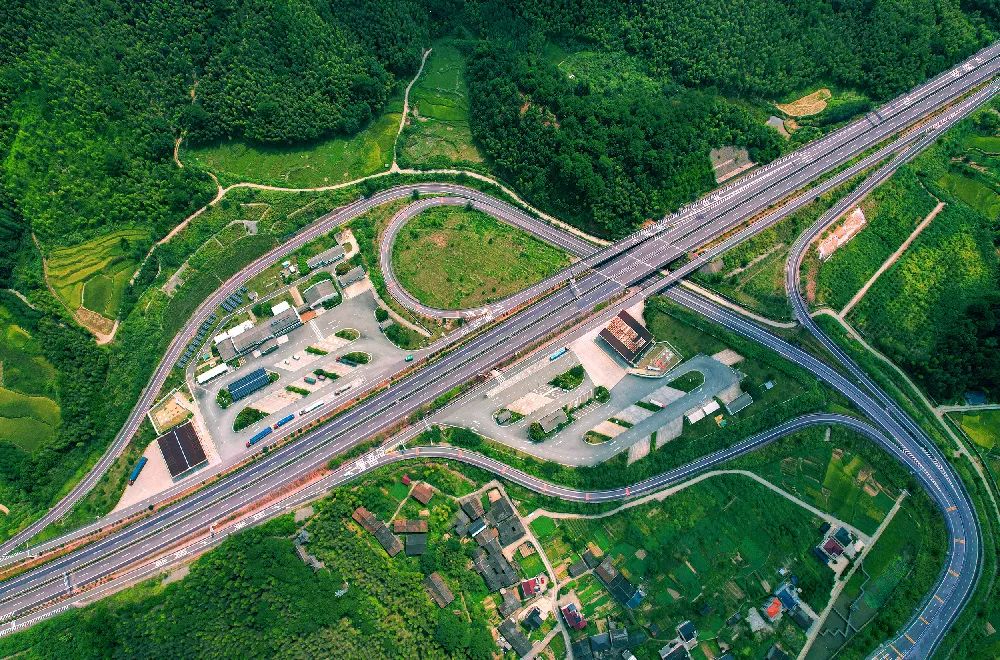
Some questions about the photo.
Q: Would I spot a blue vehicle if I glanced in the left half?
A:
Yes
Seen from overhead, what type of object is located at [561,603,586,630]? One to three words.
house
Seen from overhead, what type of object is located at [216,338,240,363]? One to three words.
building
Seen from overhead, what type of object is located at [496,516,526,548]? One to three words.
house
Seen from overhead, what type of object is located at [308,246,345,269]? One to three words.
building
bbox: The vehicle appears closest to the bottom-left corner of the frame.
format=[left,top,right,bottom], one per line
[128,458,146,483]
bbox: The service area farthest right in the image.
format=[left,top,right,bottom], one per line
[436,302,744,467]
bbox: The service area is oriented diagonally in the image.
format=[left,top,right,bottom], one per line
[113,229,446,511]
